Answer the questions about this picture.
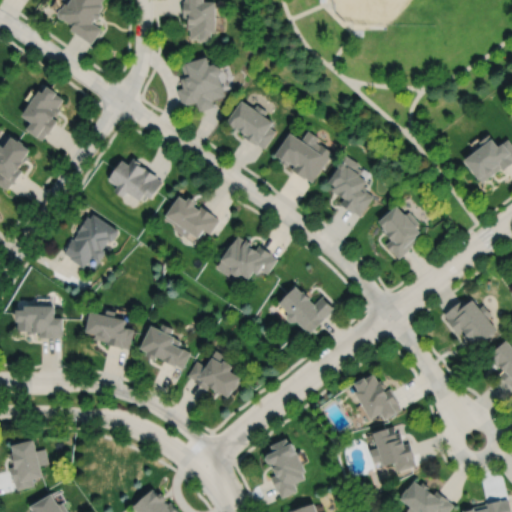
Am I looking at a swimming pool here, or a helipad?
swimming pool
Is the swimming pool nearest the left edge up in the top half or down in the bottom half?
bottom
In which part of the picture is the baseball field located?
top right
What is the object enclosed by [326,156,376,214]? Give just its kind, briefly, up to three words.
house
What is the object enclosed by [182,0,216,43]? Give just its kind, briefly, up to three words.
house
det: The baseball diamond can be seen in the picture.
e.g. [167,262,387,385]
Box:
[331,0,436,28]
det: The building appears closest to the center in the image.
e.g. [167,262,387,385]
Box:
[214,238,278,283]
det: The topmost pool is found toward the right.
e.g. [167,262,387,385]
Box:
[324,400,353,431]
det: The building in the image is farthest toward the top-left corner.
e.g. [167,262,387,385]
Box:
[58,0,105,44]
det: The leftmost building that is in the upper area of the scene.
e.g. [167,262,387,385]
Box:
[0,138,28,189]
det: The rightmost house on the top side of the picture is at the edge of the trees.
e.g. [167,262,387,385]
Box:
[464,138,512,182]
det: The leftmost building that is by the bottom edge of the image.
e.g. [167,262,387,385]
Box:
[12,441,50,491]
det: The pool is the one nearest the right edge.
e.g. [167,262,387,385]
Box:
[345,439,376,476]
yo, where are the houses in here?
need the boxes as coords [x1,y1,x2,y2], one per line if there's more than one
[445,300,496,342]
[64,214,116,268]
[30,488,78,512]
[378,208,420,259]
[266,441,308,498]
[464,138,512,182]
[229,102,276,151]
[108,159,162,205]
[133,488,188,512]
[23,87,63,140]
[462,501,512,512]
[372,428,416,474]
[166,197,218,240]
[354,377,402,420]
[396,482,454,512]
[276,132,331,182]
[182,0,216,43]
[140,326,192,368]
[279,286,334,330]
[85,314,134,350]
[58,0,105,44]
[326,156,376,214]
[214,238,278,283]
[16,306,64,339]
[494,336,512,385]
[180,58,229,111]
[190,352,240,396]
[0,138,28,189]
[12,441,50,491]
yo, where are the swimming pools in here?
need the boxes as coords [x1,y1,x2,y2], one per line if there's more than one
[324,400,353,431]
[345,439,376,476]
